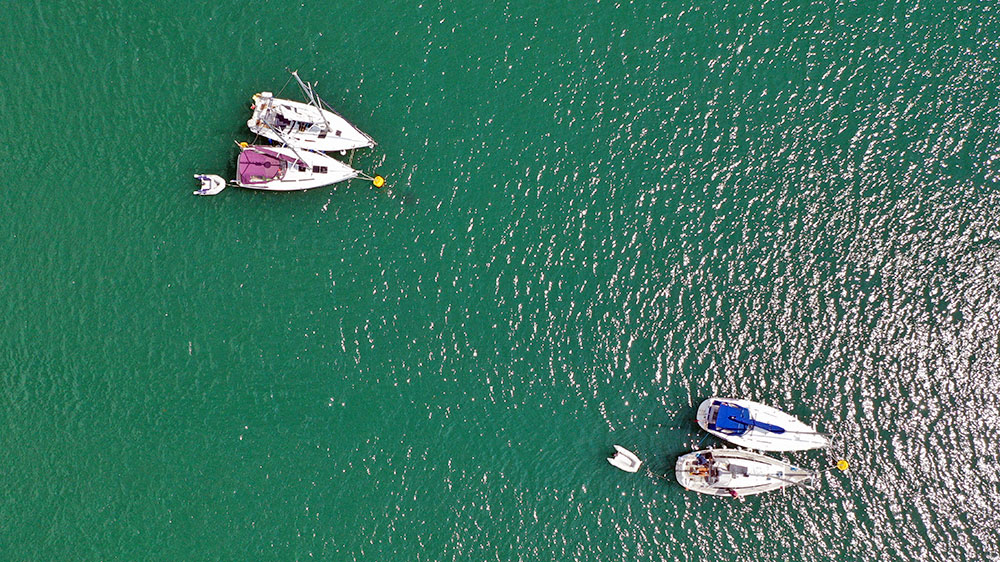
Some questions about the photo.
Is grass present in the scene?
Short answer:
No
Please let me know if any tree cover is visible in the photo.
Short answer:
No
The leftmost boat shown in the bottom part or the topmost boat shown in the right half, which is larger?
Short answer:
the topmost boat shown in the right half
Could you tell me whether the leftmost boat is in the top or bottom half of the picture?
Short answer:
top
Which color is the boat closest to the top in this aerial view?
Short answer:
white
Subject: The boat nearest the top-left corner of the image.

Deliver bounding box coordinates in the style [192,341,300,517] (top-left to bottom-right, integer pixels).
[194,175,227,195]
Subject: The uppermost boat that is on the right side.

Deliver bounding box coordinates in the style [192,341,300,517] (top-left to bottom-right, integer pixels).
[695,398,839,452]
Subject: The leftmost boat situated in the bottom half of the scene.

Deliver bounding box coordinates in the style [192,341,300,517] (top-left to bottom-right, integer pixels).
[607,445,641,470]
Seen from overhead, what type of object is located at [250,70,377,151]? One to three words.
boat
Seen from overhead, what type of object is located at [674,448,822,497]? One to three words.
boat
